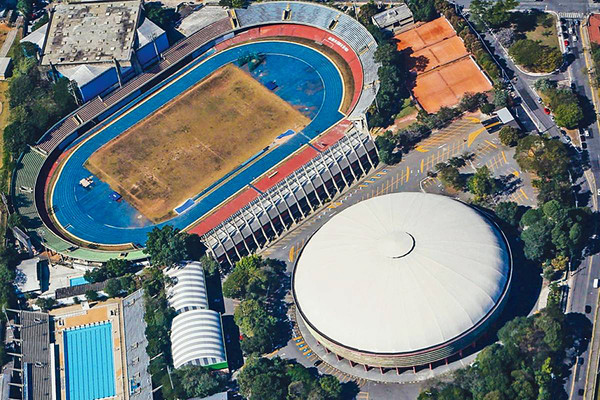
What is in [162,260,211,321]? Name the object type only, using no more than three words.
building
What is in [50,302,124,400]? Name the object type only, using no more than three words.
swimming pool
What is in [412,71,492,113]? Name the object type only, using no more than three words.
tennis court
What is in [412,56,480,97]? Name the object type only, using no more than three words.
tennis court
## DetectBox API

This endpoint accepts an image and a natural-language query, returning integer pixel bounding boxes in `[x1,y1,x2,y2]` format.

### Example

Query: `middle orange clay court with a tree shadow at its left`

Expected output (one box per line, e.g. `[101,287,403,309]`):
[408,35,468,74]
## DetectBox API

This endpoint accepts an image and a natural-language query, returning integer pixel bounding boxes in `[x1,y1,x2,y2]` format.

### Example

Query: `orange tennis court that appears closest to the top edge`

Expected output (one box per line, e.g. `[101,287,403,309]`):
[394,17,455,53]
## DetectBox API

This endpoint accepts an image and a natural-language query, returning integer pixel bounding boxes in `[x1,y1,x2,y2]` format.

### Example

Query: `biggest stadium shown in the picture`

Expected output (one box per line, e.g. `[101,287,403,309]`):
[288,193,524,381]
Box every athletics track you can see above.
[35,26,368,248]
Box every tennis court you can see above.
[412,71,492,113]
[394,17,455,53]
[412,56,480,97]
[408,35,468,74]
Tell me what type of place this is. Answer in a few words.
sports ground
